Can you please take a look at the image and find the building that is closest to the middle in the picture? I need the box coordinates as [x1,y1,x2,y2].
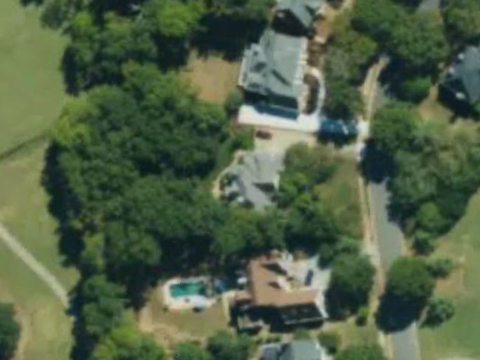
[227,142,285,212]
